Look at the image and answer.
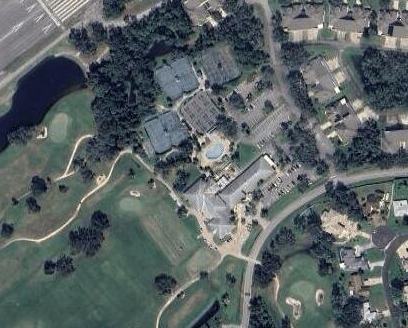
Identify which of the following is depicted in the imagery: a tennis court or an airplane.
tennis court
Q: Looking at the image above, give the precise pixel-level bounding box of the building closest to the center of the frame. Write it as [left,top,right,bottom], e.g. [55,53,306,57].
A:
[183,155,274,235]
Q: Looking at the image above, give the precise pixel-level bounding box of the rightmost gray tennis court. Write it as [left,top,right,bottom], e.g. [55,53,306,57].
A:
[213,41,245,79]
